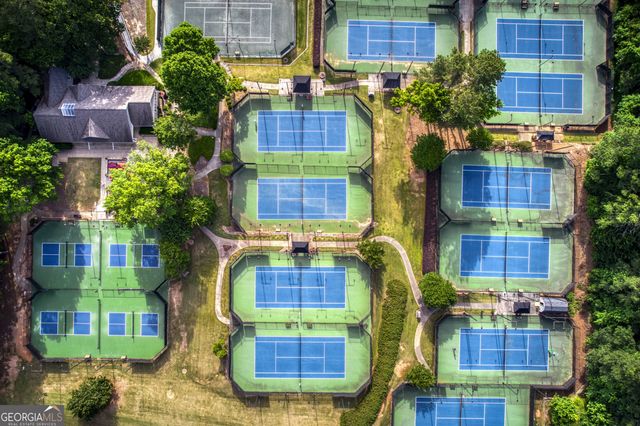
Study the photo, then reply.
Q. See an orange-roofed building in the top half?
No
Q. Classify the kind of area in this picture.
sports ground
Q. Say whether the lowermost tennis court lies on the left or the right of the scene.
right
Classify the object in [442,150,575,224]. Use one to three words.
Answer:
tennis court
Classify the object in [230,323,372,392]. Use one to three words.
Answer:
tennis court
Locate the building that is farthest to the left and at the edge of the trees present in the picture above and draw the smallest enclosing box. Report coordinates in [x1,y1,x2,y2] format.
[33,66,159,152]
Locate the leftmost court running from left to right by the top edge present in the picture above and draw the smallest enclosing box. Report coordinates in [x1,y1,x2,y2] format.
[161,0,296,57]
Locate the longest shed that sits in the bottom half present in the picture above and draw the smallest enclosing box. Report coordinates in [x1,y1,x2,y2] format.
[534,297,571,312]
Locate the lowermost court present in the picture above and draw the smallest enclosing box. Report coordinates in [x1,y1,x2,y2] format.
[393,385,531,426]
